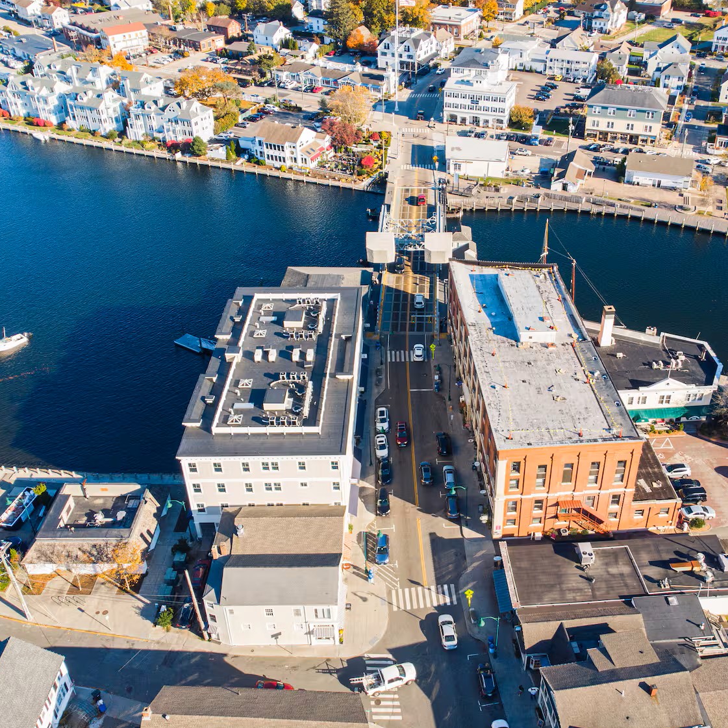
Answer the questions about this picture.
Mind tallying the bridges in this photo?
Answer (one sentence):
The count comes to 1 bridge.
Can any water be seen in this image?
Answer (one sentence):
Yes, there is water in the image.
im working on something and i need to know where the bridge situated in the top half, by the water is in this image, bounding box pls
[366,189,458,338]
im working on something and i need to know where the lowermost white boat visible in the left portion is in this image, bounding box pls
[0,326,37,352]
